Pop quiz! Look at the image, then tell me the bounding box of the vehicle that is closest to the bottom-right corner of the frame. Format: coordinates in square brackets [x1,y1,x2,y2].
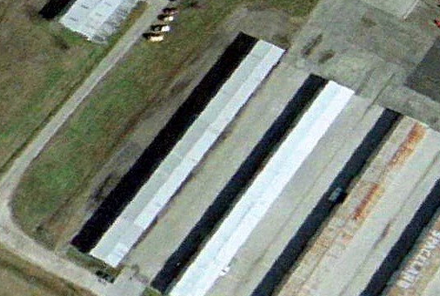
[329,188,343,202]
